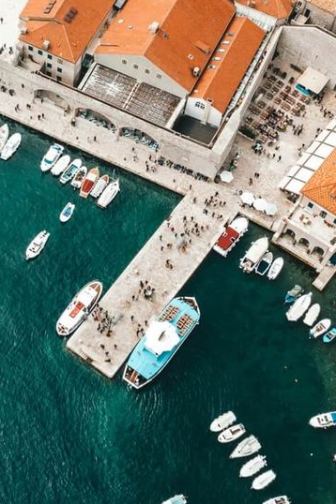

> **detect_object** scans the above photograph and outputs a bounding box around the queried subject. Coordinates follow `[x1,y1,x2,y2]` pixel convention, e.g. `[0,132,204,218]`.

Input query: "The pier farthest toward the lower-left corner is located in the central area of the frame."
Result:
[65,195,238,380]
